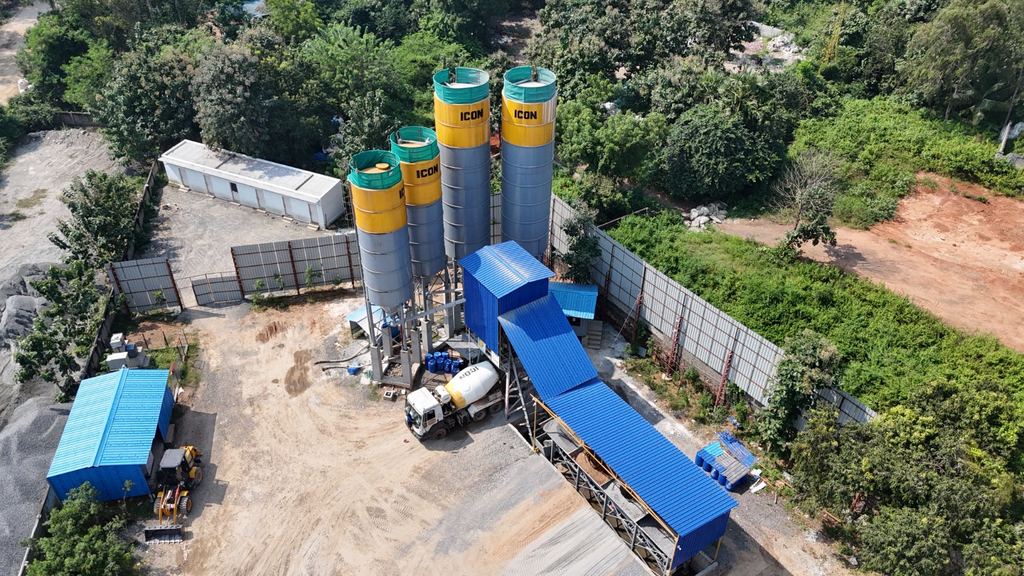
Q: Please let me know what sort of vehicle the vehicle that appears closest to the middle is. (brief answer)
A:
truck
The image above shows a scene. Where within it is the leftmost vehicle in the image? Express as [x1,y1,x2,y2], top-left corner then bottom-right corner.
[145,449,207,544]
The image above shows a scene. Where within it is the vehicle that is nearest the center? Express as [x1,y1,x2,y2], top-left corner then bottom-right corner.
[404,366,513,445]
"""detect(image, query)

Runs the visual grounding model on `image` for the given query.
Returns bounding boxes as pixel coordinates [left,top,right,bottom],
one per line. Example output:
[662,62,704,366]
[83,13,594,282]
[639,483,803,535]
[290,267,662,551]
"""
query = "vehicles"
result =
[404,366,513,445]
[145,449,207,544]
